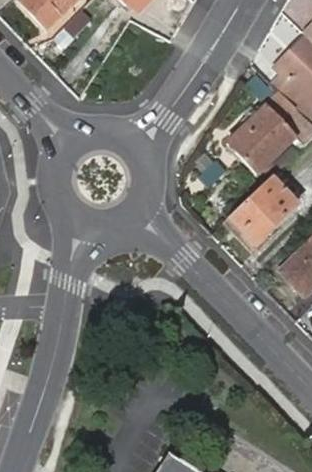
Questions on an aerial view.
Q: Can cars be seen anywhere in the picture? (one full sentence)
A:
Yes, looking at the shot, I can spot a car.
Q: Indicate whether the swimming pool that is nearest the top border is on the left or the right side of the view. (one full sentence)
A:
The swimming pool that is nearest the top border appears in the right half of the scene.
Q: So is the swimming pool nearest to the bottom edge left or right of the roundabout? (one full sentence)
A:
You can see the swimming pool nearest to the bottom edge positioned to the right of the roundabout.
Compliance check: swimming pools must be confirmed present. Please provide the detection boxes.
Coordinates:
[244,74,275,103]
[200,159,226,187]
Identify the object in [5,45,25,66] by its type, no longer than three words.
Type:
car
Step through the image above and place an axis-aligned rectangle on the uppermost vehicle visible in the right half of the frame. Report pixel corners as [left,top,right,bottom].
[192,83,210,104]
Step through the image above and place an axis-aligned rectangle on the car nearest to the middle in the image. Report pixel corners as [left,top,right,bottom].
[88,242,106,261]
